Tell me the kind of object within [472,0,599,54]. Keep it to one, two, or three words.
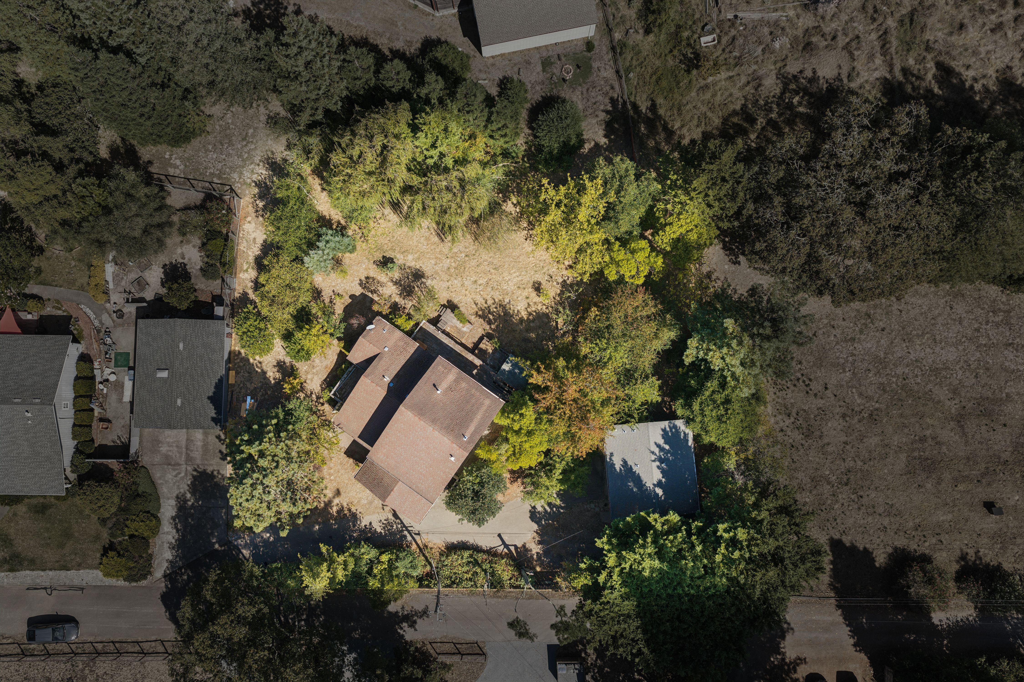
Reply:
barn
